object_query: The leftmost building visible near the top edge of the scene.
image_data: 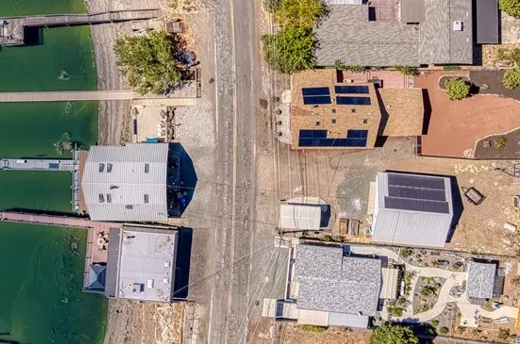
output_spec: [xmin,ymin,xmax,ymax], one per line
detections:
[314,0,472,66]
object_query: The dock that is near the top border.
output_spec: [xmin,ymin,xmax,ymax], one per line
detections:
[0,5,159,47]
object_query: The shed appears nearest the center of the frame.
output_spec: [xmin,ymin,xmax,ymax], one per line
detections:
[279,205,321,230]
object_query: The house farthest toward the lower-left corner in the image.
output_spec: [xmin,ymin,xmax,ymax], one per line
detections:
[107,226,180,302]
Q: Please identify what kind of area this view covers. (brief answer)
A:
residential area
